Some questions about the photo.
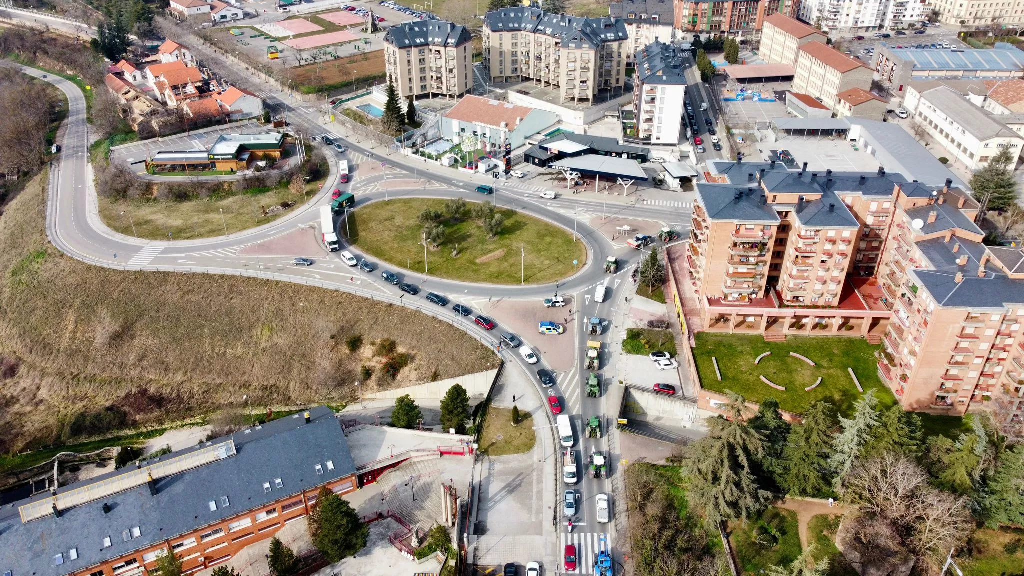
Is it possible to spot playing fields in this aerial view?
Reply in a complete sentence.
Yes, this view includes a playing field.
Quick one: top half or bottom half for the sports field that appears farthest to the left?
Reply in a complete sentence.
The top half of the photo is where the sports field that appears farthest to the left is.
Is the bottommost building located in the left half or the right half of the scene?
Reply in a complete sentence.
The bottommost building is on the left side of the image.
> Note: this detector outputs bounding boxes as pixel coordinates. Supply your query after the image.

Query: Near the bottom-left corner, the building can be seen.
[0,406,357,576]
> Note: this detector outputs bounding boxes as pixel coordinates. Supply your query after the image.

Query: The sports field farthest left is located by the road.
[191,7,389,78]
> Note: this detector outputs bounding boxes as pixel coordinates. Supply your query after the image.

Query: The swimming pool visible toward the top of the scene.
[357,103,383,117]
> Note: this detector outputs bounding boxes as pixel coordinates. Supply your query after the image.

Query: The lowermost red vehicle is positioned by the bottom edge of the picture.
[562,541,578,570]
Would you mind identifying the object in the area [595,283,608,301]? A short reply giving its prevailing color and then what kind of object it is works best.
white vehicle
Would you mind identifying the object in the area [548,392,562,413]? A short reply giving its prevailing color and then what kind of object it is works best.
red car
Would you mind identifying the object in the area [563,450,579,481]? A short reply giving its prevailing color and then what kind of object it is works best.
white vehicle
